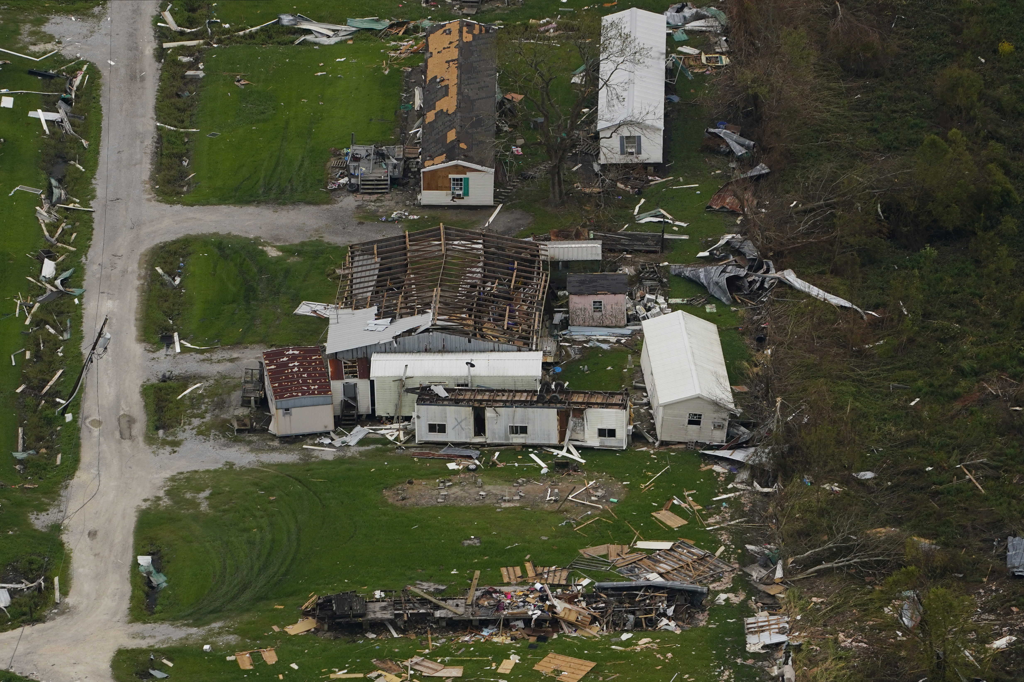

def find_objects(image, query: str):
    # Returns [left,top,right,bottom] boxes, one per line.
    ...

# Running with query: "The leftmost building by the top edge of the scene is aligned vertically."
[420,18,497,206]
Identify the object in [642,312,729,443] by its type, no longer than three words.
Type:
house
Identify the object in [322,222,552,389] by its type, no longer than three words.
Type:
barn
